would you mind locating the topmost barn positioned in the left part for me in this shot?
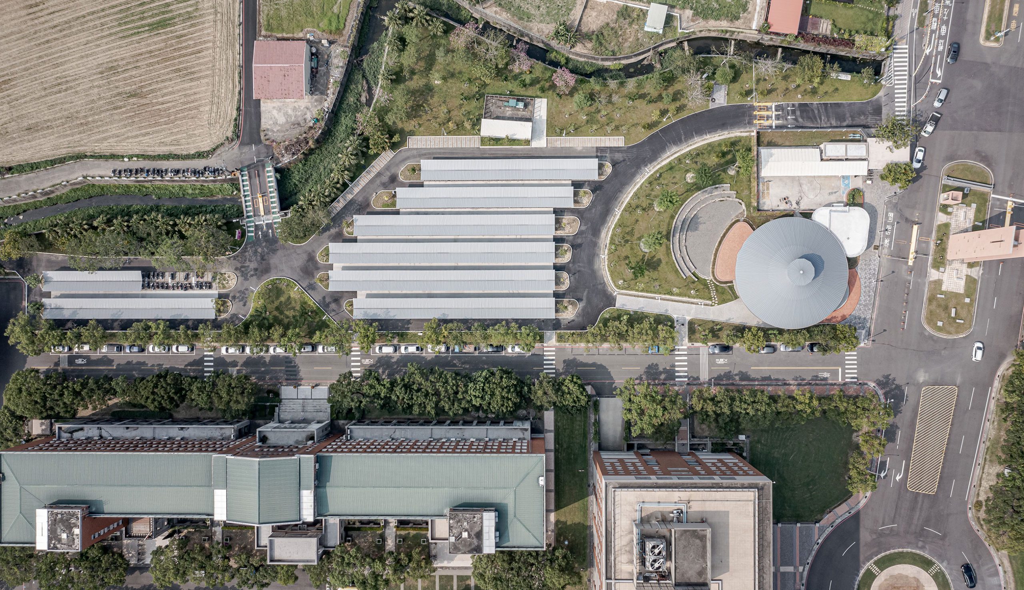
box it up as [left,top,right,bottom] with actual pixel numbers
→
[252,40,314,104]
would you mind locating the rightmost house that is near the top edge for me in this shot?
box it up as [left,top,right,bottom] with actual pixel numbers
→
[762,0,803,40]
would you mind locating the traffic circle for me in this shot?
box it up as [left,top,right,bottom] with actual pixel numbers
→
[855,549,953,590]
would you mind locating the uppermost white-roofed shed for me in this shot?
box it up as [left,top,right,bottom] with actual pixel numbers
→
[643,2,668,37]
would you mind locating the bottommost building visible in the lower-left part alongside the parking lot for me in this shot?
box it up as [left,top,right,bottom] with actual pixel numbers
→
[0,417,548,564]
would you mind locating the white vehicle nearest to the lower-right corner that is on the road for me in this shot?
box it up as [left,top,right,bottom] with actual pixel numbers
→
[972,342,984,362]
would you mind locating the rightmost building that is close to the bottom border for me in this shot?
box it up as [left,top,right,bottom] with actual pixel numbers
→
[589,451,784,590]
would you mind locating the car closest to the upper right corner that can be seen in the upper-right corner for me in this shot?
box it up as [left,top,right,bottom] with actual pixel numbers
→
[947,41,960,63]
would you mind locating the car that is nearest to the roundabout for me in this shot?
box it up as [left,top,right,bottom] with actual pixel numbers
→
[962,564,976,589]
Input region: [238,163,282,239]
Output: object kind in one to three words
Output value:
bridge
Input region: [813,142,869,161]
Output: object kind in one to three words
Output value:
building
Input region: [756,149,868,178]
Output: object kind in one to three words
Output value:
shed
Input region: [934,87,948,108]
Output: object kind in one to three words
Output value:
car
